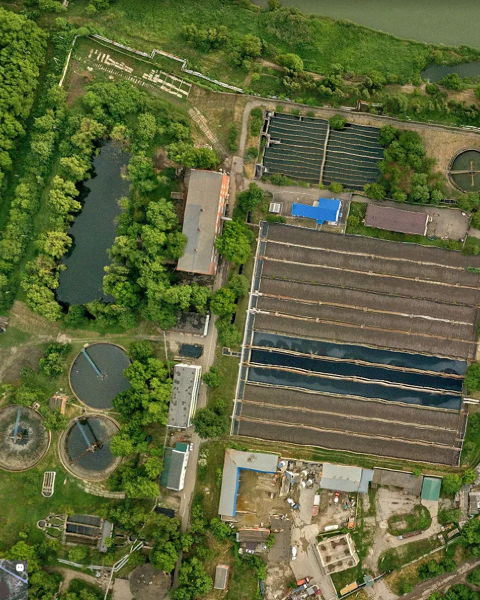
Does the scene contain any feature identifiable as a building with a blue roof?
Yes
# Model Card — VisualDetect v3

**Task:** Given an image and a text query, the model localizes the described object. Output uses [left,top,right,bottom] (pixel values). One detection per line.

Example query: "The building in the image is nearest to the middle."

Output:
[170,312,210,337]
